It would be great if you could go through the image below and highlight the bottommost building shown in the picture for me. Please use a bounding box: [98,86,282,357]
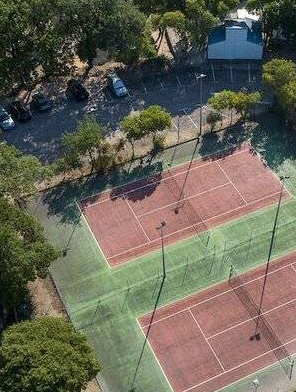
[208,18,264,59]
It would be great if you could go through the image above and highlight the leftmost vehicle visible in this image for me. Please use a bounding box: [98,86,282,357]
[0,106,15,131]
